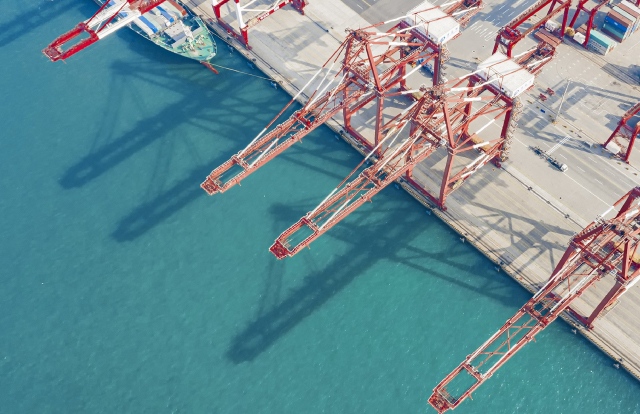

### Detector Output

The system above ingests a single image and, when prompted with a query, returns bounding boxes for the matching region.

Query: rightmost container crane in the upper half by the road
[601,92,640,164]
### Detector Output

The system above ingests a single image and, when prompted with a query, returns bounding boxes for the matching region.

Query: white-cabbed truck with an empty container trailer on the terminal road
[528,141,564,169]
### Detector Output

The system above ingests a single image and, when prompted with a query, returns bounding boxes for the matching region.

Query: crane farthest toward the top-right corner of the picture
[563,0,611,48]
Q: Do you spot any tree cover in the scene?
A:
No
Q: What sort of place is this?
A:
port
